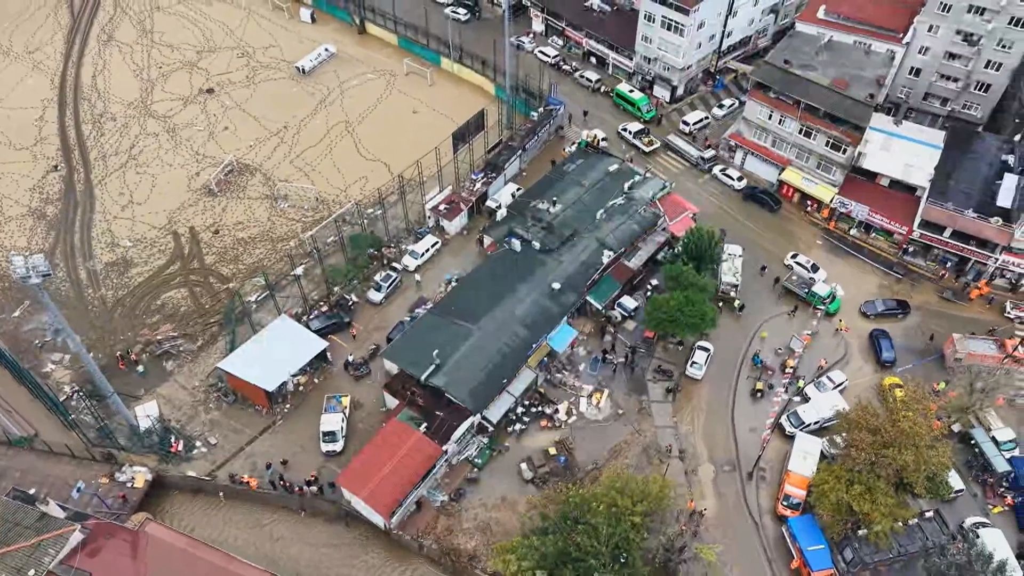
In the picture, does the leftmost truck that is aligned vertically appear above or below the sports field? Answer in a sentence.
Looking at the photo, you'll find the leftmost truck that is aligned vertically below the sports field.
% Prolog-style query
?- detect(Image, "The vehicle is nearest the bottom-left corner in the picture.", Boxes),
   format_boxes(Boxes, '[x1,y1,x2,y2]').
[318,396,350,457]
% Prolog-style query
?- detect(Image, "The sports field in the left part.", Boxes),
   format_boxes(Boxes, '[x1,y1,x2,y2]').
[0,0,528,343]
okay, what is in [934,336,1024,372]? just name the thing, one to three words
truck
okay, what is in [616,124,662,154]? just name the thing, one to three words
truck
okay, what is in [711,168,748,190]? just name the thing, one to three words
car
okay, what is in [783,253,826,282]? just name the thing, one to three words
car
